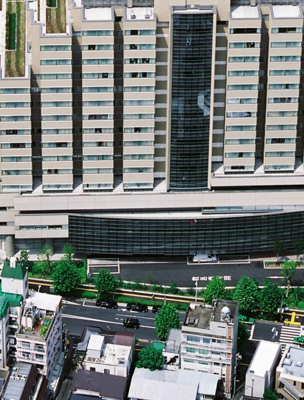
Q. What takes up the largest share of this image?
buildings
